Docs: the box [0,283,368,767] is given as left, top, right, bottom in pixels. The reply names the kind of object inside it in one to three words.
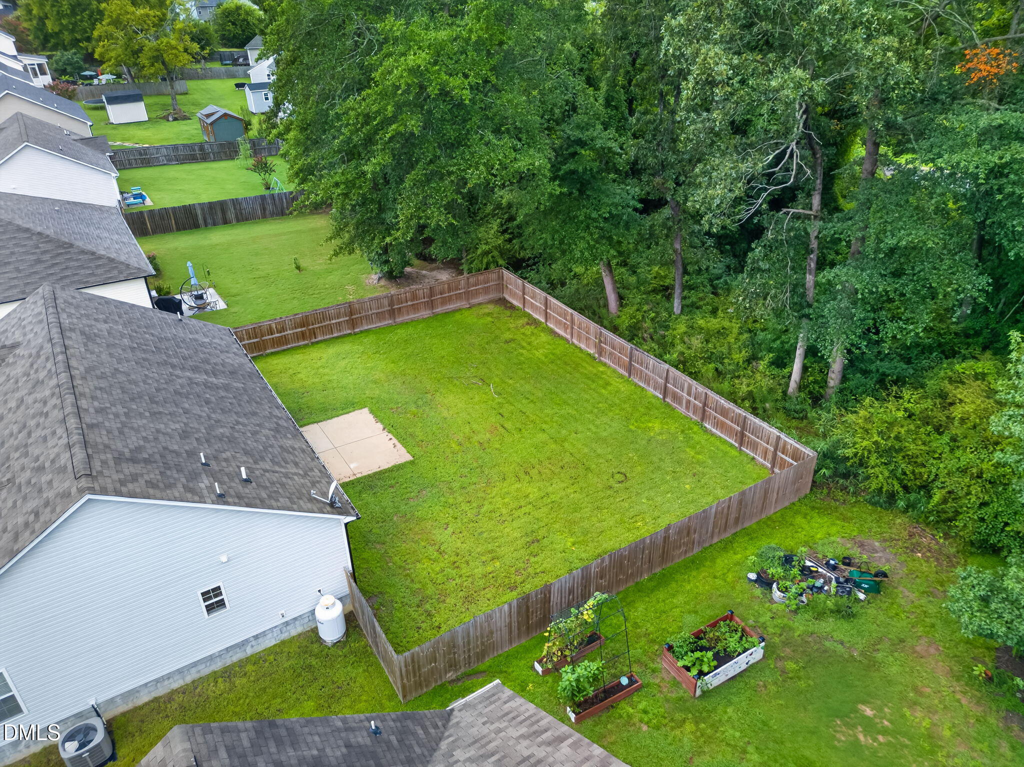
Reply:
house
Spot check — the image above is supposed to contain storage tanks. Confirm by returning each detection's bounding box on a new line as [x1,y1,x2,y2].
[313,595,349,654]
